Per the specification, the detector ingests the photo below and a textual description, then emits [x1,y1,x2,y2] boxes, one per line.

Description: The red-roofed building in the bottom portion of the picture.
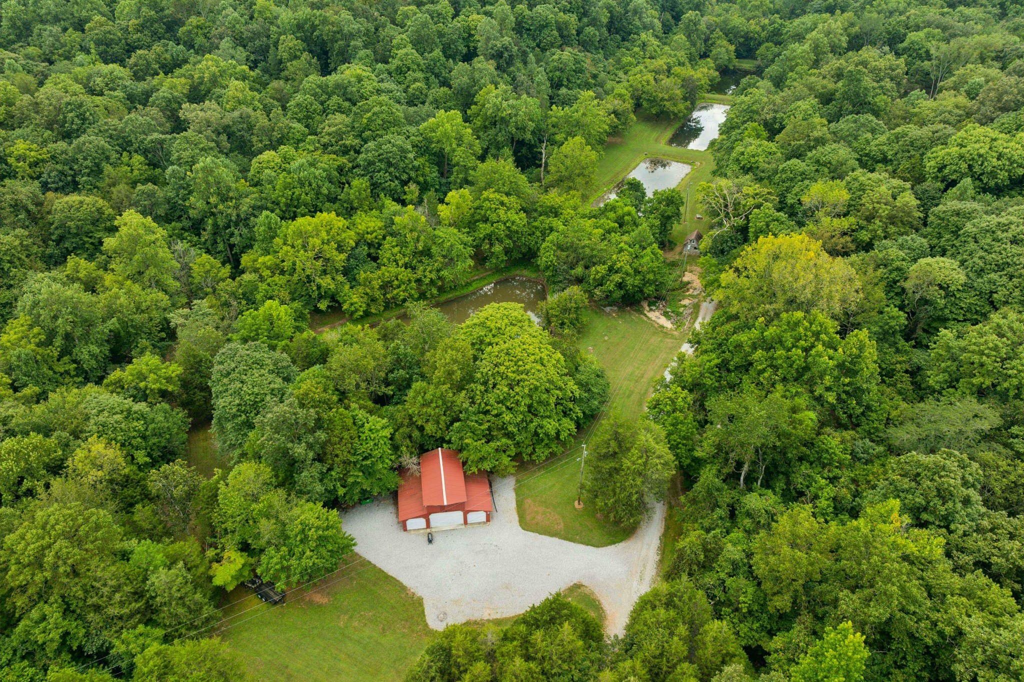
[397,441,493,535]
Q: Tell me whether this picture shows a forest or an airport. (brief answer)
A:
forest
